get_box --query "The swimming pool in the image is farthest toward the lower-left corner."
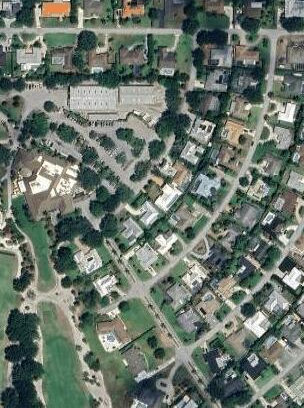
[99,330,119,348]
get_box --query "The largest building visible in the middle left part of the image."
[12,146,87,224]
